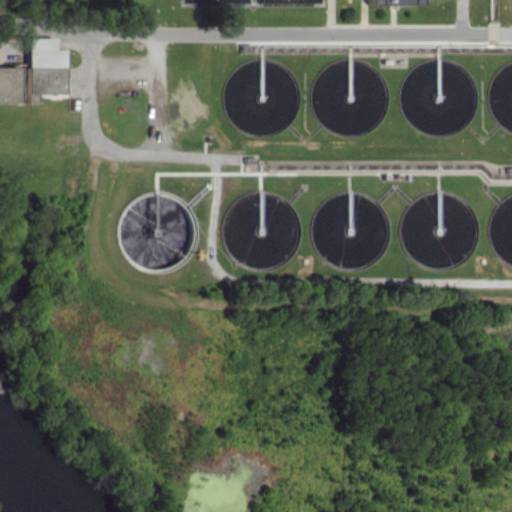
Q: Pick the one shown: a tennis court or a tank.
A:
tank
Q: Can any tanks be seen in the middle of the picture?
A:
Yes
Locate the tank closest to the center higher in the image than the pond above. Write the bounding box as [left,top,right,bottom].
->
[222,176,301,272]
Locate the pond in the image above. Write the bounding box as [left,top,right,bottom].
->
[184,458,252,512]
